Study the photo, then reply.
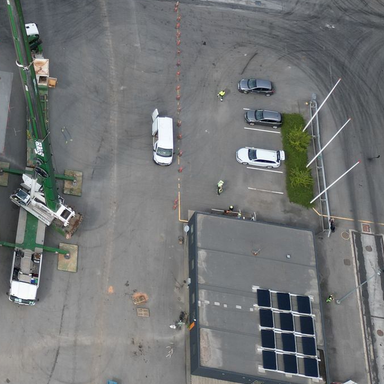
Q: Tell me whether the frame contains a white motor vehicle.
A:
Yes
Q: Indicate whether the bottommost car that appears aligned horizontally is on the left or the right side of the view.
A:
right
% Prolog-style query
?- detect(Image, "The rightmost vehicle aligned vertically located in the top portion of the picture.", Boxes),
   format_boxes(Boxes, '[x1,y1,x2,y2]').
[151,107,174,168]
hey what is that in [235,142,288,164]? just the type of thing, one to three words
car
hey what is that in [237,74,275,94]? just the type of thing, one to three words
car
